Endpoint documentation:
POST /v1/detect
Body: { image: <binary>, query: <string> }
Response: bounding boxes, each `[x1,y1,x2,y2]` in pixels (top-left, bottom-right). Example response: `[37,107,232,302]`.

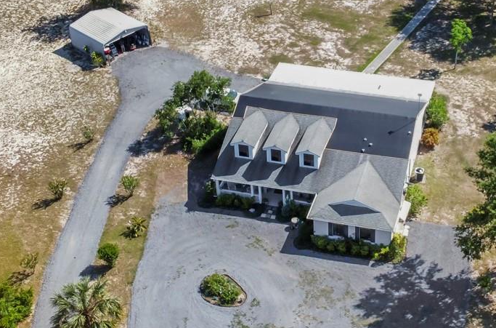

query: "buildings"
[209,64,436,247]
[66,5,153,65]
